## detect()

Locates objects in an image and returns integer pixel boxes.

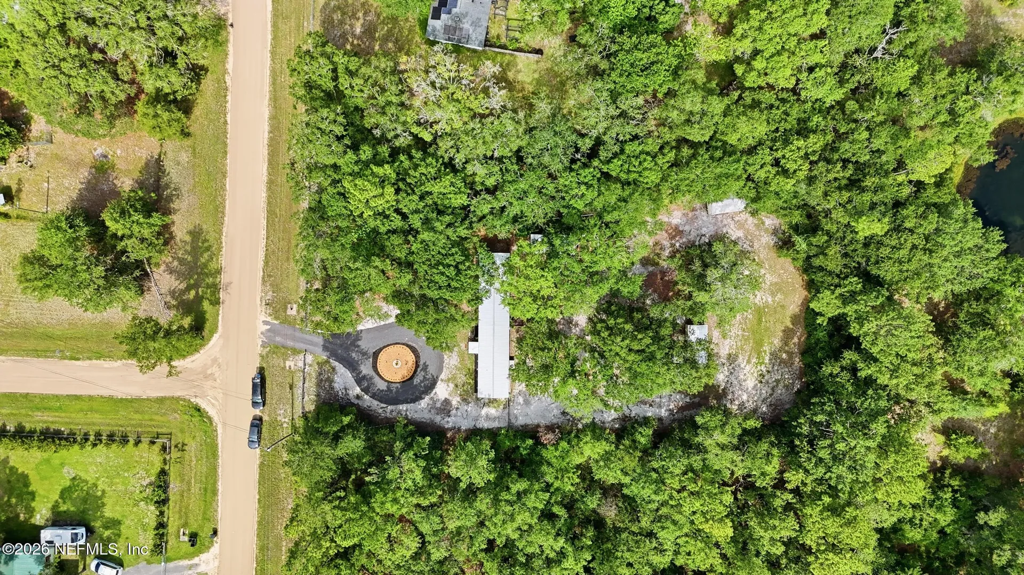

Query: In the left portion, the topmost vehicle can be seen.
[250,373,266,408]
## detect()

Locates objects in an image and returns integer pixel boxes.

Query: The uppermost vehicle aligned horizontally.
[41,524,94,545]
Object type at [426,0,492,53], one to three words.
house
